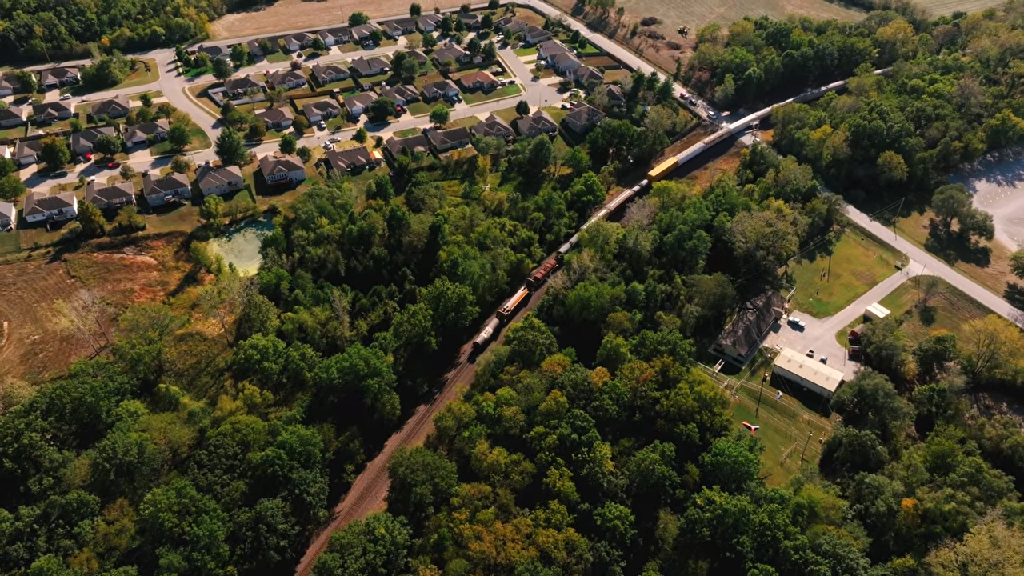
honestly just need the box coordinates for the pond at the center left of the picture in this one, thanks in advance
[210,218,276,275]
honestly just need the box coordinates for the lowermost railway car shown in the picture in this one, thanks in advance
[474,311,505,348]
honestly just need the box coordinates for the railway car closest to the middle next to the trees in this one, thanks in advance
[501,281,534,317]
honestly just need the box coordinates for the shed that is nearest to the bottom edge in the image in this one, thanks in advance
[768,350,842,408]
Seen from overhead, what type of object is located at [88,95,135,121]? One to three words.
house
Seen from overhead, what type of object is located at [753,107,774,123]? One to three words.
rail car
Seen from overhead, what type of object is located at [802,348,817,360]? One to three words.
vehicle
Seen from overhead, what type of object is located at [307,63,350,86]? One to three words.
house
